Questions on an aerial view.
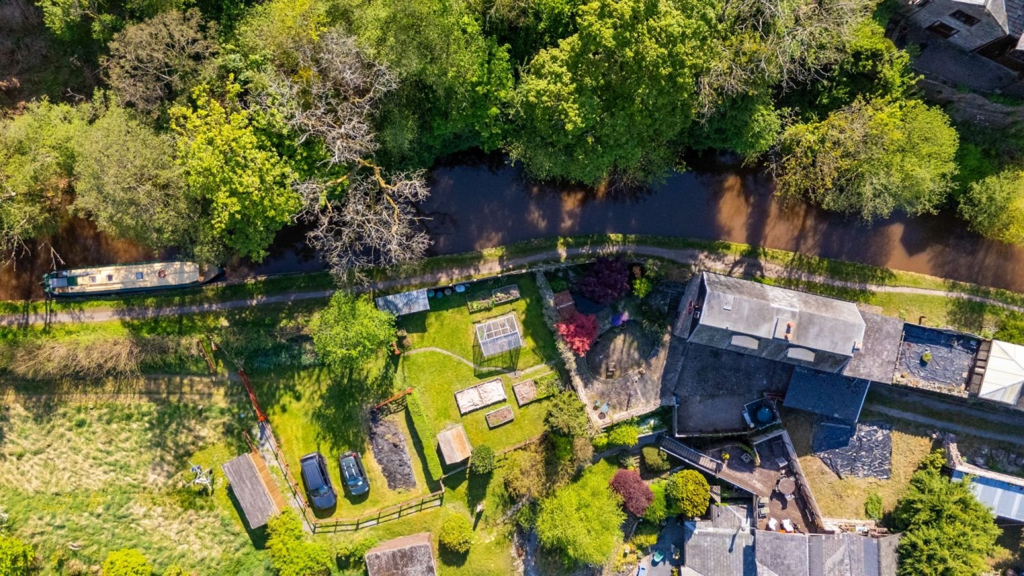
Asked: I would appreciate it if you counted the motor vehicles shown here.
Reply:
2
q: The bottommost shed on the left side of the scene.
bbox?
[366,533,439,576]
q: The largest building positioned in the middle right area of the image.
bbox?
[684,270,867,374]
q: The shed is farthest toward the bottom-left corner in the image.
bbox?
[222,449,289,529]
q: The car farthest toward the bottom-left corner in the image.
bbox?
[300,449,338,511]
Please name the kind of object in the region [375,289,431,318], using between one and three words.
shed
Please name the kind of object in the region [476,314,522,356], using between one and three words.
greenhouse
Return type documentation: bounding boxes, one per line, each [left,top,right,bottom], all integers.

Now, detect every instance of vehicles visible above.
[300,449,338,511]
[339,447,370,498]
